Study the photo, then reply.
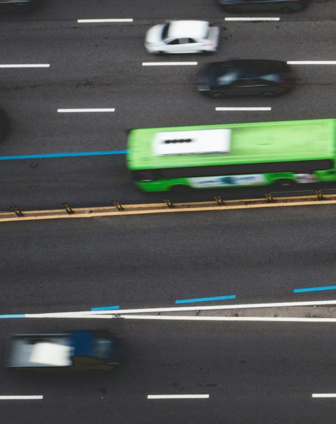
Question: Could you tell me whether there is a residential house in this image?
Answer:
No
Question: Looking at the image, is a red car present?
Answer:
No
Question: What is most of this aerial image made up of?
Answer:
paved ground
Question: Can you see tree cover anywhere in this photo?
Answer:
No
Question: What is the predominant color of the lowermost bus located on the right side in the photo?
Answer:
green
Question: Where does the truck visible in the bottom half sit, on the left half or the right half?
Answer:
left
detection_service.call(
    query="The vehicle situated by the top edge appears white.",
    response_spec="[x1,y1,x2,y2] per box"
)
[145,16,220,54]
